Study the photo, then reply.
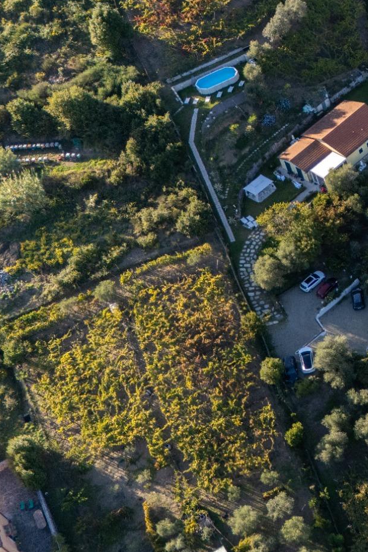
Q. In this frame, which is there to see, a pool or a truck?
pool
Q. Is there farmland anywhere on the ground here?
Yes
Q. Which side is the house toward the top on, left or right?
right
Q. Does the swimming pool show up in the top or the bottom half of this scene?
top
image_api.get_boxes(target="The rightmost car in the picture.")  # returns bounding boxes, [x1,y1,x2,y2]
[348,284,364,309]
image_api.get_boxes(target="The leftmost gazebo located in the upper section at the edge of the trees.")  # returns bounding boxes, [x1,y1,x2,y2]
[243,174,277,206]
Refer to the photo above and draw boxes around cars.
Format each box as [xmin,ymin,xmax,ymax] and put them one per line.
[348,284,364,309]
[298,267,327,292]
[313,274,341,299]
[295,343,314,374]
[280,352,300,382]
